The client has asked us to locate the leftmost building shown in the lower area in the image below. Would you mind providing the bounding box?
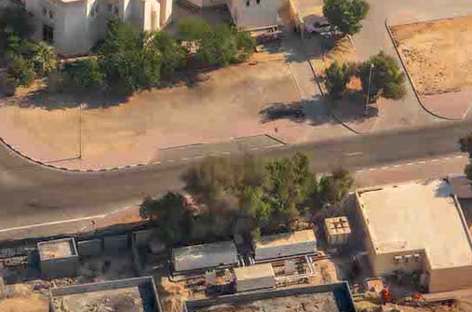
[170,238,238,272]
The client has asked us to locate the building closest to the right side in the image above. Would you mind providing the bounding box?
[354,180,472,291]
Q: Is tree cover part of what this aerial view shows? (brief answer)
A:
Yes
